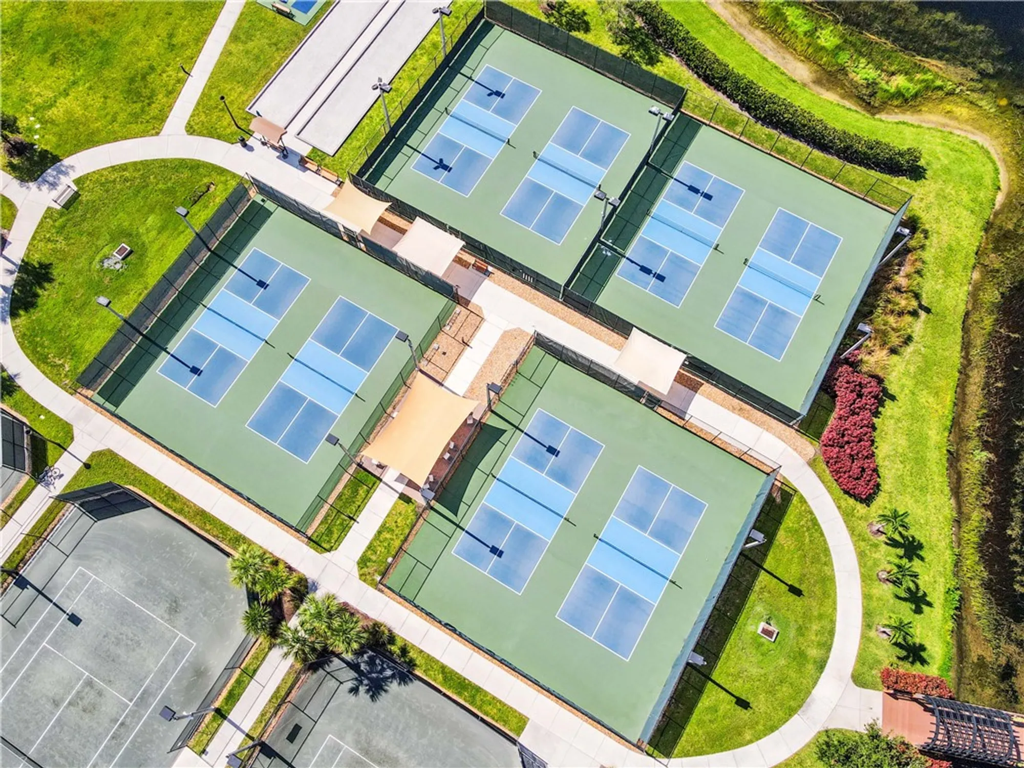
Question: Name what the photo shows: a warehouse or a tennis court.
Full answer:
This aerial view contains a tennis court.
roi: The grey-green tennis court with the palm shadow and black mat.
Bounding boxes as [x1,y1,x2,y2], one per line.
[248,649,517,768]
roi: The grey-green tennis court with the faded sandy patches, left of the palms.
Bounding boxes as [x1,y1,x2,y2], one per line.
[0,493,248,768]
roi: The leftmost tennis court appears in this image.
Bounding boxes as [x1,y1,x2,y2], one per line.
[0,410,26,501]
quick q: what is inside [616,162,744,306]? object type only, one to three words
sports court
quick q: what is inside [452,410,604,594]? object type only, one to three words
sports court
